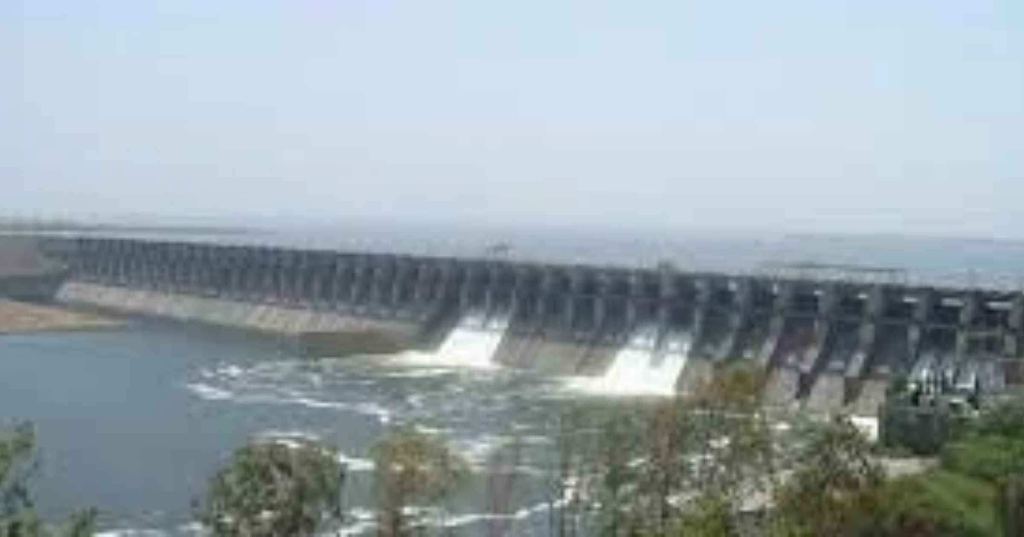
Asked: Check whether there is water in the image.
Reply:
Yes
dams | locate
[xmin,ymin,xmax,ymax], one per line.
[35,239,1024,420]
